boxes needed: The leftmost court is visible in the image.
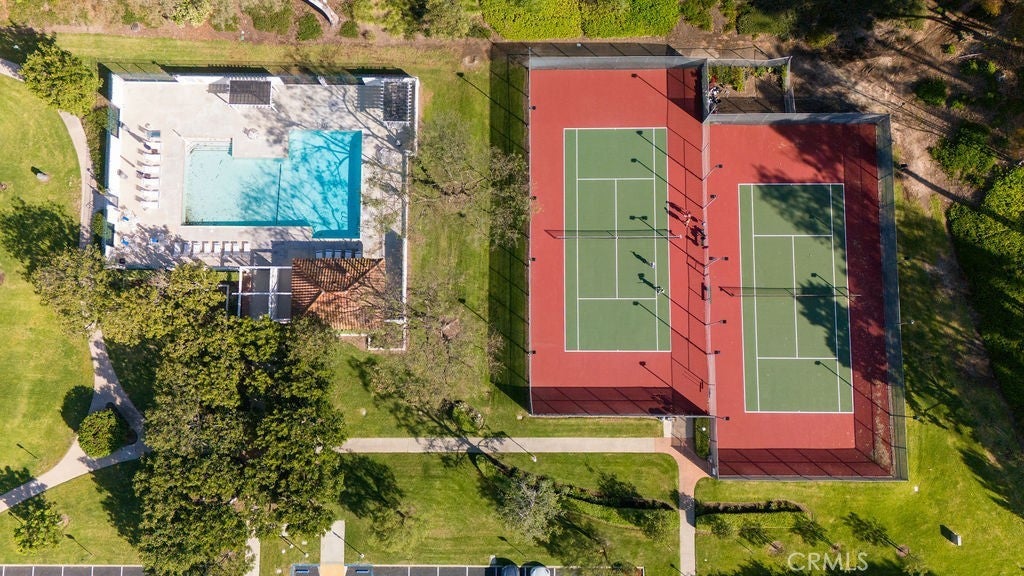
[529,68,708,415]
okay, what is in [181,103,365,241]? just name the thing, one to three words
swimming pool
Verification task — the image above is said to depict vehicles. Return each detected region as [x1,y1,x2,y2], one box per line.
[501,566,519,576]
[531,567,549,576]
